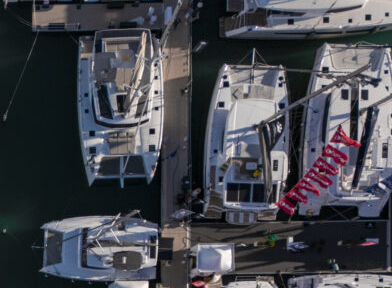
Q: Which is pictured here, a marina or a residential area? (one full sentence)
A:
This looks like a marina.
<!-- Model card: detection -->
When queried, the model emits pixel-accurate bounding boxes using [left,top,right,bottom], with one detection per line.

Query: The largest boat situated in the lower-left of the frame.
[40,208,167,285]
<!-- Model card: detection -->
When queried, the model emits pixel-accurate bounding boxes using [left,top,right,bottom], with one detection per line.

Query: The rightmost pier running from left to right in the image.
[190,221,389,273]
